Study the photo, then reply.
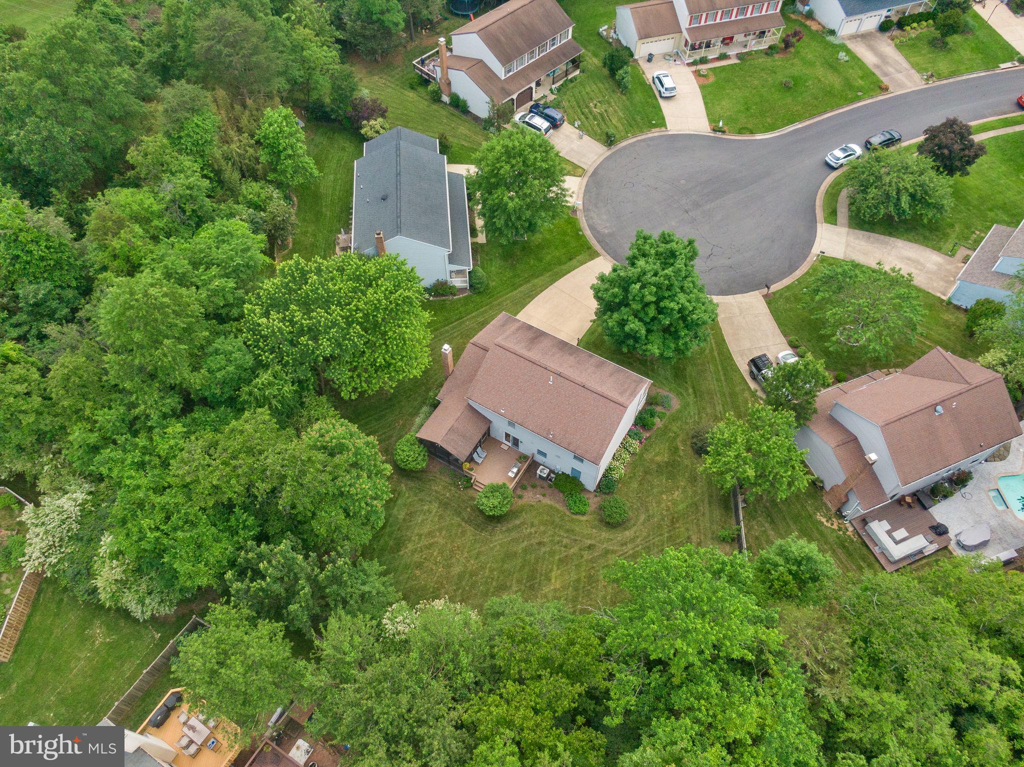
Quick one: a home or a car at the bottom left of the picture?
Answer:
home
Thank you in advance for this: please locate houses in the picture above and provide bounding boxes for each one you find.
[420,0,585,119]
[416,311,654,495]
[946,218,1024,335]
[42,714,172,767]
[784,340,1024,574]
[804,0,934,35]
[617,0,787,60]
[345,124,473,293]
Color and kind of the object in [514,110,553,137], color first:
white car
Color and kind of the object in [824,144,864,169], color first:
white car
